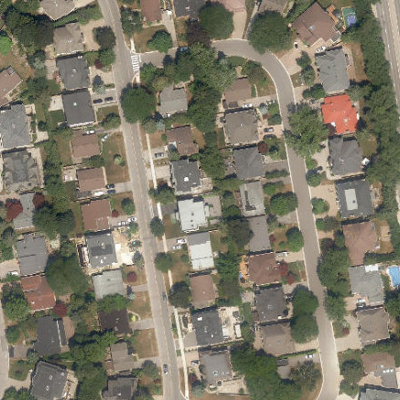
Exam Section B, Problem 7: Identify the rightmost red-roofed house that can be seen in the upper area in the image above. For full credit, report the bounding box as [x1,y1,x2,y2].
[324,94,361,132]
